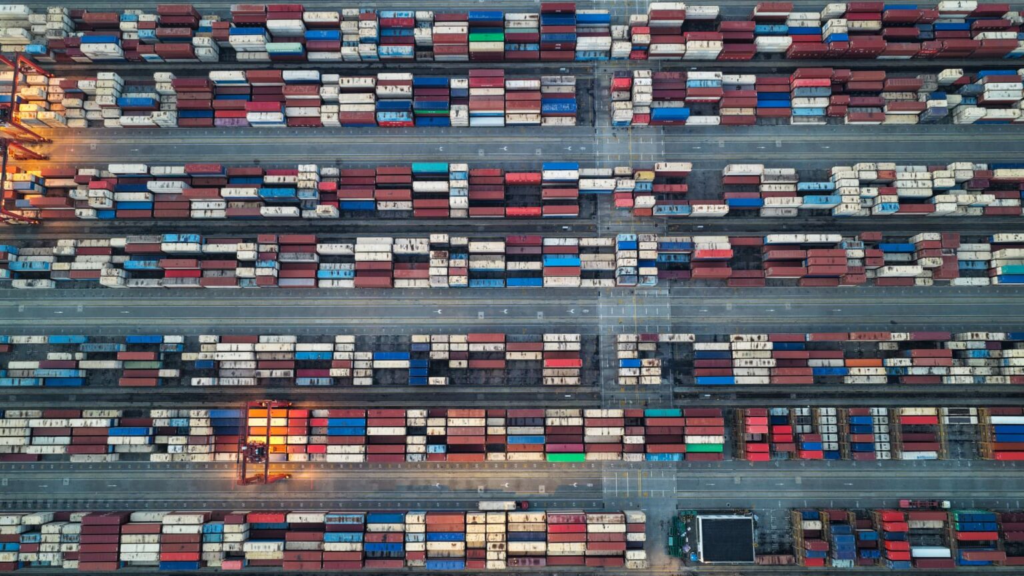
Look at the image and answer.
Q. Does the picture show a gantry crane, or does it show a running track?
gantry crane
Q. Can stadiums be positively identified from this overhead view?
No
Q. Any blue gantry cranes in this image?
No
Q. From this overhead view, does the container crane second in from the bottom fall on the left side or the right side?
left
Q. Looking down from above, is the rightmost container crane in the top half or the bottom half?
bottom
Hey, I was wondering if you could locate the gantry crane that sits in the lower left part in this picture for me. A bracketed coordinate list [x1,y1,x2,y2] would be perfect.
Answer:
[236,401,297,484]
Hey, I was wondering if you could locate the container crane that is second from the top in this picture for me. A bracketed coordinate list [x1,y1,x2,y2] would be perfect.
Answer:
[0,138,51,225]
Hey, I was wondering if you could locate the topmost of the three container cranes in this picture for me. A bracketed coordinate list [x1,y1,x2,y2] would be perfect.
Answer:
[0,52,60,142]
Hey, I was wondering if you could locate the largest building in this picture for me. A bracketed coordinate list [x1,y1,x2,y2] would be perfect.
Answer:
[696,513,754,563]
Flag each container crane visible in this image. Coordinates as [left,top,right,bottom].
[0,138,51,225]
[0,52,60,142]
[236,401,297,484]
